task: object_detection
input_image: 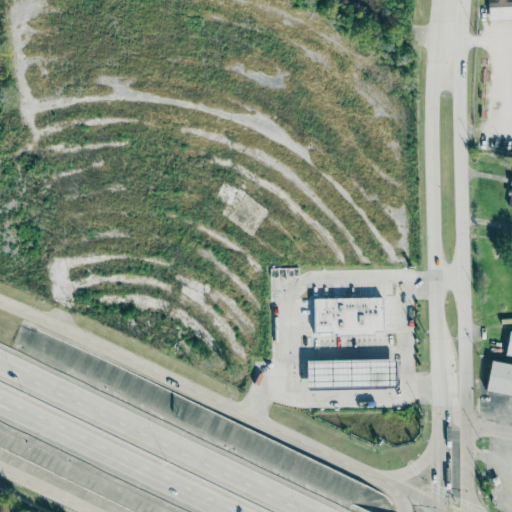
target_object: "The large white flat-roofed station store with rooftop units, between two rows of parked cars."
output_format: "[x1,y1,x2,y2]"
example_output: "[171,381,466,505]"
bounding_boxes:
[314,298,384,336]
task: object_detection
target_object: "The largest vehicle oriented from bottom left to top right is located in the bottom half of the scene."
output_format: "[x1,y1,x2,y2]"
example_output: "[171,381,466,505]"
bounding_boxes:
[254,363,272,386]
